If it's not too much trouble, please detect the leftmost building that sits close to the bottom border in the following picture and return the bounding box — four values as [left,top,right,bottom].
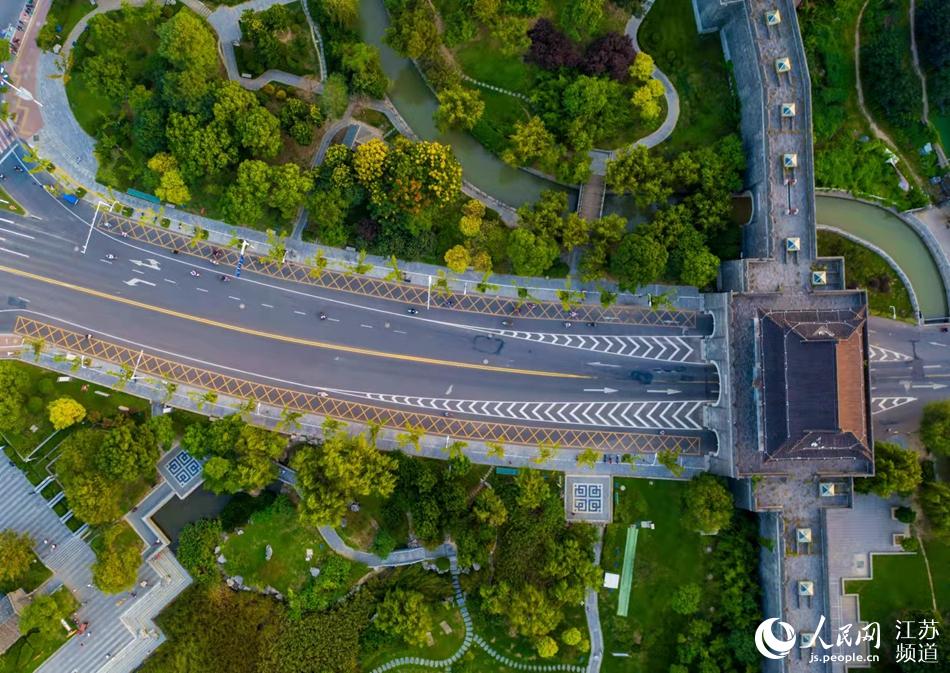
[0,580,44,655]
